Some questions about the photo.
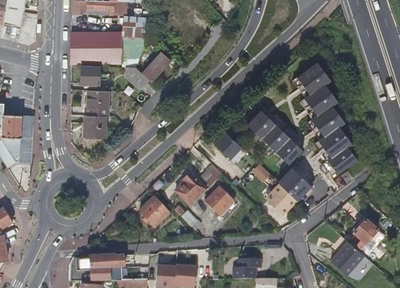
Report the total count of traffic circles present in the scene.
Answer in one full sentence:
Altogether the scene contains 1 traffic circle.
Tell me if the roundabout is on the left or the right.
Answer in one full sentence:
The roundabout is on the left side of the image.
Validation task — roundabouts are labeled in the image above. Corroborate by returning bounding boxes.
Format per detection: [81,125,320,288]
[33,165,107,238]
